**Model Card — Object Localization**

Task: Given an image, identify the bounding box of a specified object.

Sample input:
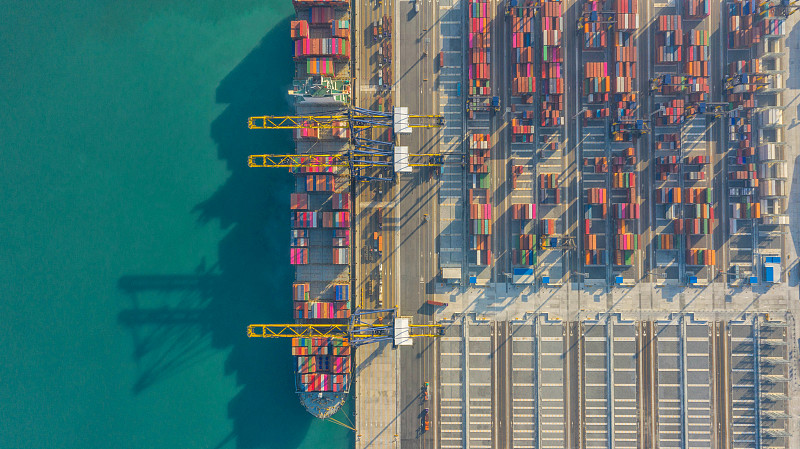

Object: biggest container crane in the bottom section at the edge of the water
[247,305,445,347]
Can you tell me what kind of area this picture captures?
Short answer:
port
